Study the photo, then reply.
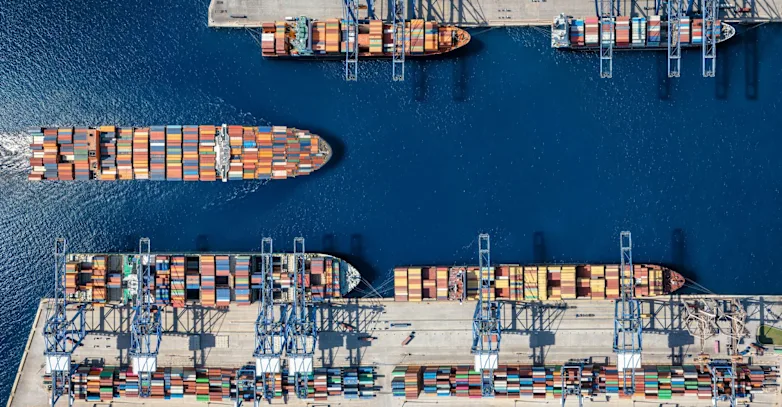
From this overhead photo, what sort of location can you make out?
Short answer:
port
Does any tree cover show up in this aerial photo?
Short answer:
No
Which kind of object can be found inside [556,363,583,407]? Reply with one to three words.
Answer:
crane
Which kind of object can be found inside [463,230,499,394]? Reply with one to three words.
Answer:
container crane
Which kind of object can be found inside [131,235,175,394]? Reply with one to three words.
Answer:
container crane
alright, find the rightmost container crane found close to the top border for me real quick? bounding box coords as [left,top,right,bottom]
[675,0,723,79]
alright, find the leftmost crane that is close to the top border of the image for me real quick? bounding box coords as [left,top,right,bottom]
[338,0,370,79]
